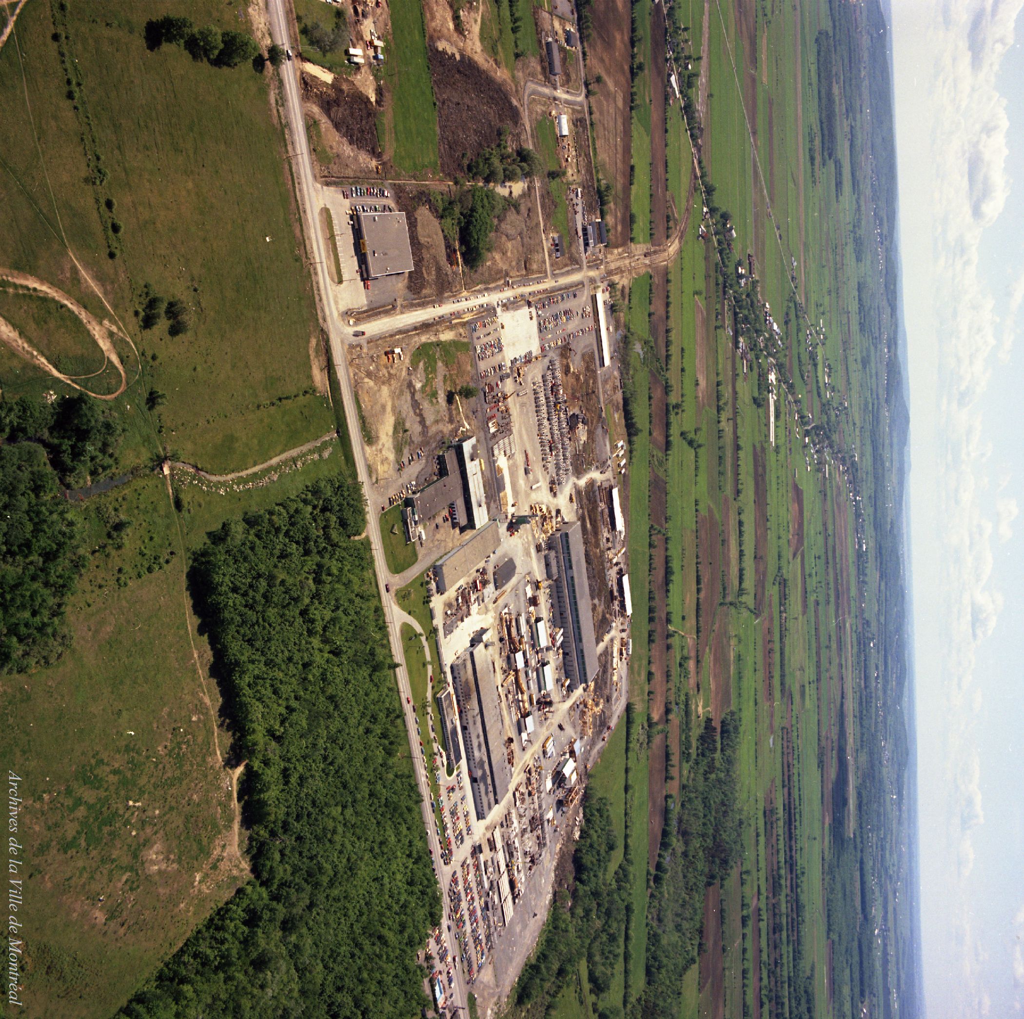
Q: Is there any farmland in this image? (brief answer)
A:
Yes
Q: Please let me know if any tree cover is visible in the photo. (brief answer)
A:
Yes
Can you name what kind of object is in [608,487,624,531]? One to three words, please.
shed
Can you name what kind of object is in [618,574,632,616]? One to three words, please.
shed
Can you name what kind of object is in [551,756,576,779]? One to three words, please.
building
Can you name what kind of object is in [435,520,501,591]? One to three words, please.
building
